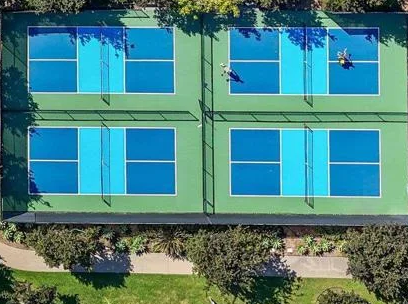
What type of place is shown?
sports ground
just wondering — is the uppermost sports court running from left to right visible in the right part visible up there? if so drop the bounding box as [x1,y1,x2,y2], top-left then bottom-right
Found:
[229,28,380,96]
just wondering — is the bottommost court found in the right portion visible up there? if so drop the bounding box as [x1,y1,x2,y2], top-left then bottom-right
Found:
[230,129,380,197]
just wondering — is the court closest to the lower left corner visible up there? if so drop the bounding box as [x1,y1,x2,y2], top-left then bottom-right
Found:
[29,127,177,196]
